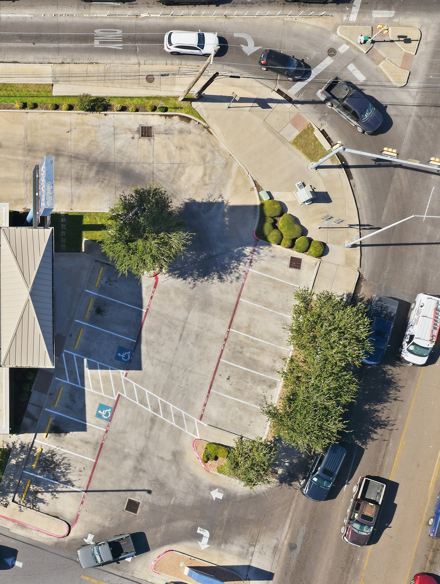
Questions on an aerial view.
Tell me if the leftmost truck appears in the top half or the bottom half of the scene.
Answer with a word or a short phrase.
bottom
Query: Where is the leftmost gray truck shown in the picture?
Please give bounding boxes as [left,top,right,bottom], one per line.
[77,532,139,569]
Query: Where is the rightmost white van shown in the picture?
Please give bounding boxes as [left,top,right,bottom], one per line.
[401,292,440,364]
